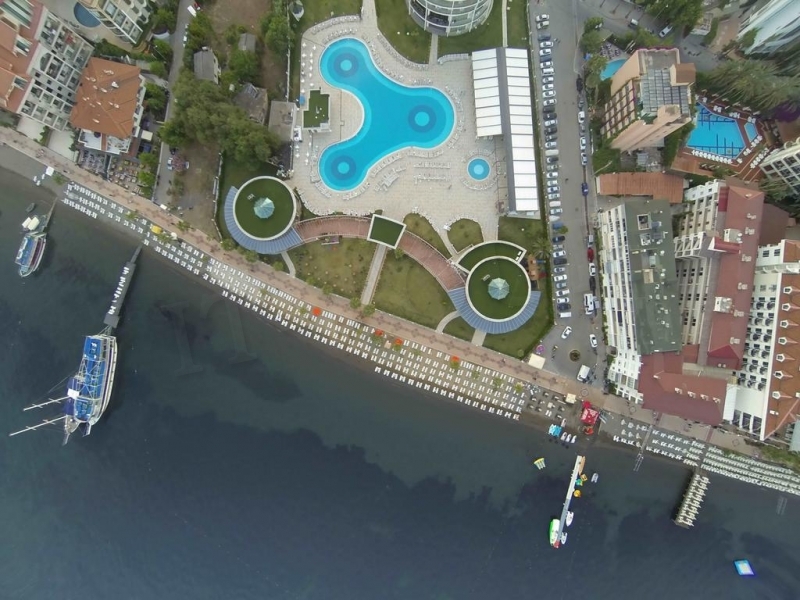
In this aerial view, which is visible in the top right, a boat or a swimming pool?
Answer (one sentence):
Looking in the top right, you will find a swimming pool.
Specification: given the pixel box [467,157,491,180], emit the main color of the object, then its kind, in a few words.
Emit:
blue swimming pool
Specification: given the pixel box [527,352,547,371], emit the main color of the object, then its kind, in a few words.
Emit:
white umbrella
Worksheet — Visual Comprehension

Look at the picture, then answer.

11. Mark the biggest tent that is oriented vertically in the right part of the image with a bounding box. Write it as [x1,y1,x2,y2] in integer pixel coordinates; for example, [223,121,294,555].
[505,48,538,216]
